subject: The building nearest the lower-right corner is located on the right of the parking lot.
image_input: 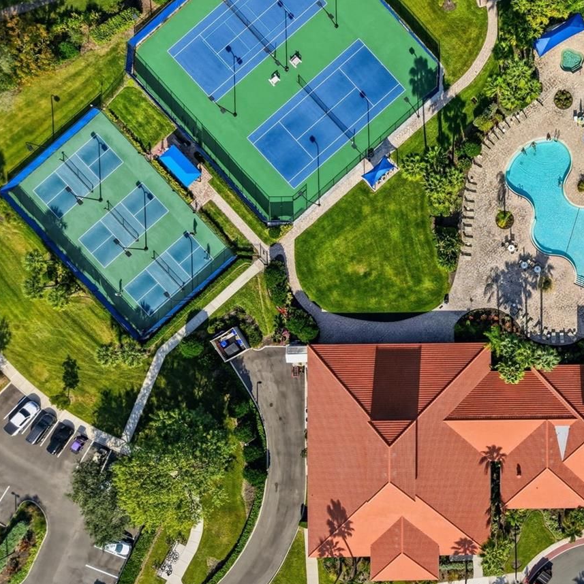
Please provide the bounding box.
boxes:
[307,345,584,581]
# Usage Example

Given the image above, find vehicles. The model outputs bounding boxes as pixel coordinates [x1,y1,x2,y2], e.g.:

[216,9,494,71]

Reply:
[22,412,55,447]
[532,568,553,584]
[100,539,132,560]
[65,436,85,453]
[1,401,37,435]
[43,422,73,457]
